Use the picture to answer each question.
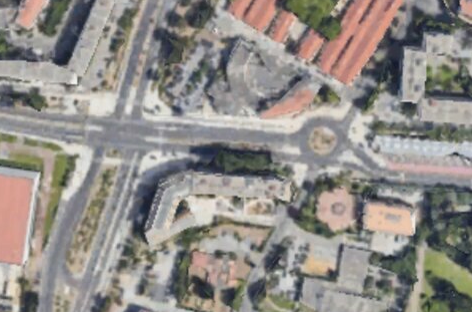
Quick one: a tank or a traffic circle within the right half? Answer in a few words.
traffic circle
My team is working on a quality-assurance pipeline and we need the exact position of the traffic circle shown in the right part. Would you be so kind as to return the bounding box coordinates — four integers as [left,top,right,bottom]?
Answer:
[296,113,350,167]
